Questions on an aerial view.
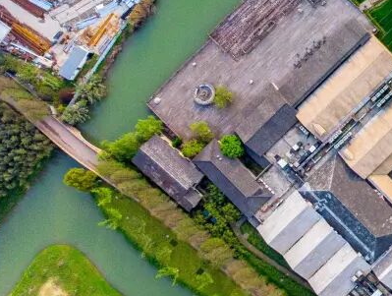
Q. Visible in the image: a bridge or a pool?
bridge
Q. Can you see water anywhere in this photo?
Yes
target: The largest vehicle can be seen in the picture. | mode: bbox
[50,27,64,42]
